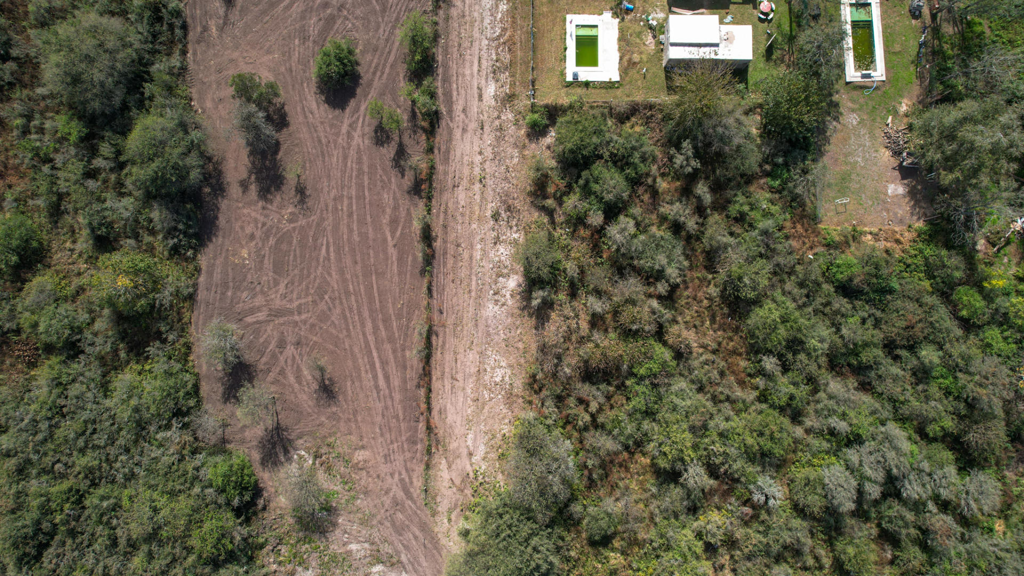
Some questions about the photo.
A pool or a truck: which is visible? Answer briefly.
pool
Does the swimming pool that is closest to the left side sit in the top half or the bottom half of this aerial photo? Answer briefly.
top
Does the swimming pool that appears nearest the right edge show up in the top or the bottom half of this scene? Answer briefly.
top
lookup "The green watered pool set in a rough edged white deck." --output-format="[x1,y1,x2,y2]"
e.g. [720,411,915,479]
[566,11,619,81]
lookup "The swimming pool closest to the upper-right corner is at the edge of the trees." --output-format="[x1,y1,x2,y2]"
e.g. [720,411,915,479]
[841,0,887,82]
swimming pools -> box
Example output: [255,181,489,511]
[841,0,887,82]
[566,11,619,81]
